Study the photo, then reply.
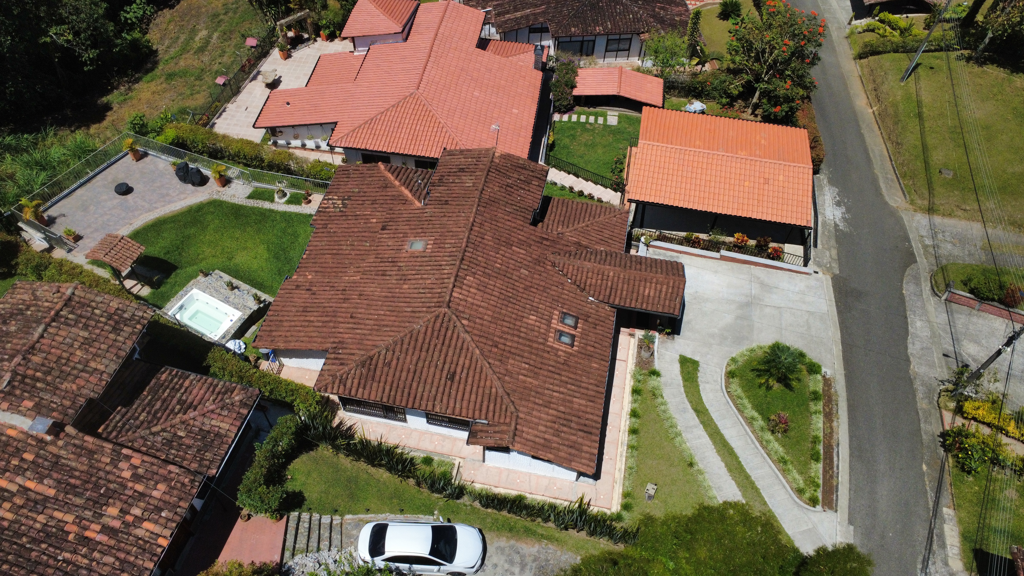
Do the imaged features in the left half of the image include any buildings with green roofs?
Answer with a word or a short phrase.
No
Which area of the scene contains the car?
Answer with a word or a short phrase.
bottom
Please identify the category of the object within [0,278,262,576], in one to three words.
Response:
house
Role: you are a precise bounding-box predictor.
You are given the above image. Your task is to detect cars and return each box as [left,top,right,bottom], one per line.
[357,514,489,576]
